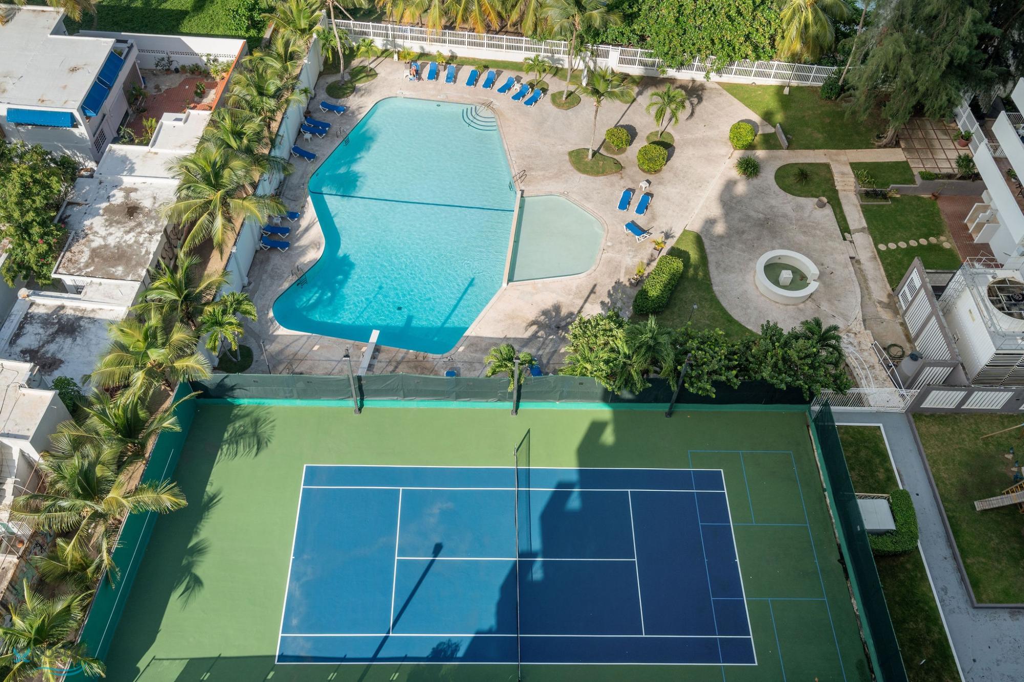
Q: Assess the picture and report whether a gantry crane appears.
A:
No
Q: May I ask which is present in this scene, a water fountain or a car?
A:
water fountain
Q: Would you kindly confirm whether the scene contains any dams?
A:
No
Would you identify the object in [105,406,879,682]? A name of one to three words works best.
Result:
tennis court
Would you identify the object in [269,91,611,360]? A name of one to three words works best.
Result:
swimming pool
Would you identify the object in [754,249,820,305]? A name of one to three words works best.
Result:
fountain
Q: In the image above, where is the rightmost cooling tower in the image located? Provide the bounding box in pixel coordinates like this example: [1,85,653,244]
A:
[929,257,1024,395]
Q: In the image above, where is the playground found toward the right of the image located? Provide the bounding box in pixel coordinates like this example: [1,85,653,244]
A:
[973,422,1024,515]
